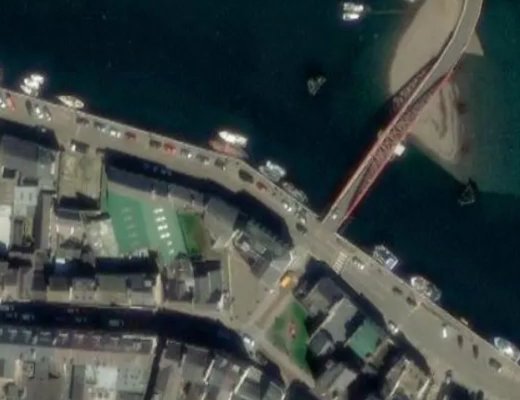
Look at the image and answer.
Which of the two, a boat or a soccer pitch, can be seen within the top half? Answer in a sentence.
You can see a boat within the top half.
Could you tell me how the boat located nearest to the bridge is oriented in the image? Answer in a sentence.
What the image shows is the boat located nearest to the bridge lying diagonally.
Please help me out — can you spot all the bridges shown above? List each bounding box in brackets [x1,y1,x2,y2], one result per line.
[320,0,481,233]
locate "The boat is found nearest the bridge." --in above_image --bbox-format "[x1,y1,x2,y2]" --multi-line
[279,183,309,207]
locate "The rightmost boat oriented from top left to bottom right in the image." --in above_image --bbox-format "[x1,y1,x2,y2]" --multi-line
[492,341,520,365]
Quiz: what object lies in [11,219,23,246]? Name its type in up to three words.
house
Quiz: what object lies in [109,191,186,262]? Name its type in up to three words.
sports court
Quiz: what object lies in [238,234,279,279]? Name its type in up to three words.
building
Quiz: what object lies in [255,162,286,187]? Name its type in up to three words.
boat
